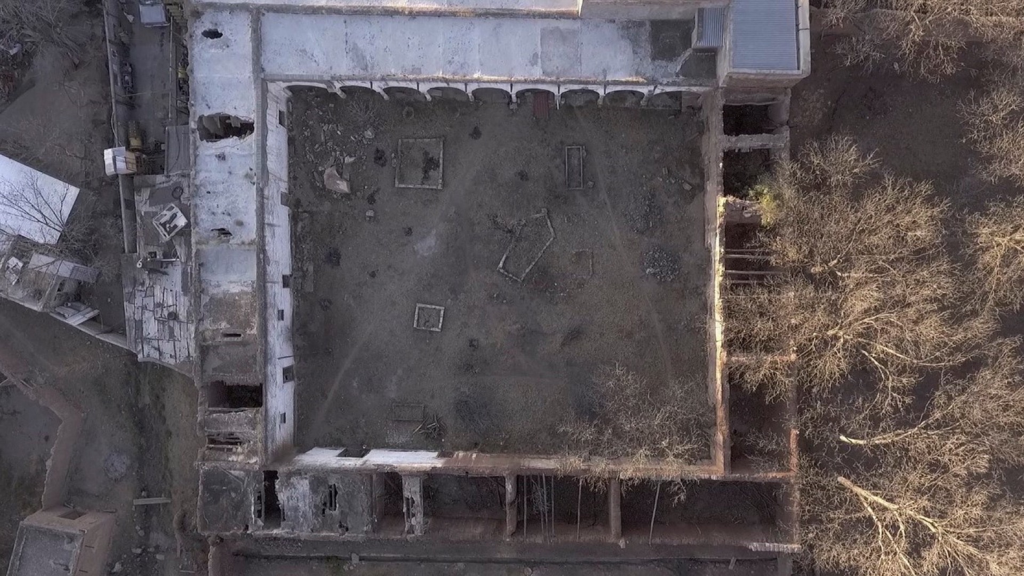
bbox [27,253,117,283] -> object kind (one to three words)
shed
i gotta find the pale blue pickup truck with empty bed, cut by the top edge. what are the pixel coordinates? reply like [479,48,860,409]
[136,0,172,28]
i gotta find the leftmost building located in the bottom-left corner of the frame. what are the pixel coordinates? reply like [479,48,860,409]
[4,503,120,576]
